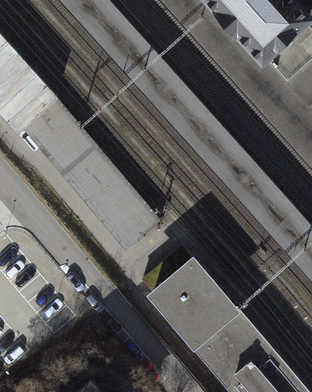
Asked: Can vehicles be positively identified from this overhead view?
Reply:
Yes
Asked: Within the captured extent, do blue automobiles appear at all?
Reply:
Yes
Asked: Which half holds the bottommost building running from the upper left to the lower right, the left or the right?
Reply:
right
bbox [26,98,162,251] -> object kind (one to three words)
shed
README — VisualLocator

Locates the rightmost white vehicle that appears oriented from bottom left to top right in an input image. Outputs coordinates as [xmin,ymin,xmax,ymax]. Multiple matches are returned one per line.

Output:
[44,298,64,317]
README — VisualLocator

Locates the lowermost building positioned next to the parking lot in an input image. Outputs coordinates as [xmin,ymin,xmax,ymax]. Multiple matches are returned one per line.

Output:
[147,258,308,392]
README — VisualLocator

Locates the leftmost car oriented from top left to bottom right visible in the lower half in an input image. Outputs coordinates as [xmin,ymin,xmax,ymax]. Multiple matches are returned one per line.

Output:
[66,270,85,292]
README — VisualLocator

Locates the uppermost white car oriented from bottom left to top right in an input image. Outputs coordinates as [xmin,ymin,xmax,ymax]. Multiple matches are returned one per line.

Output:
[6,260,26,278]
